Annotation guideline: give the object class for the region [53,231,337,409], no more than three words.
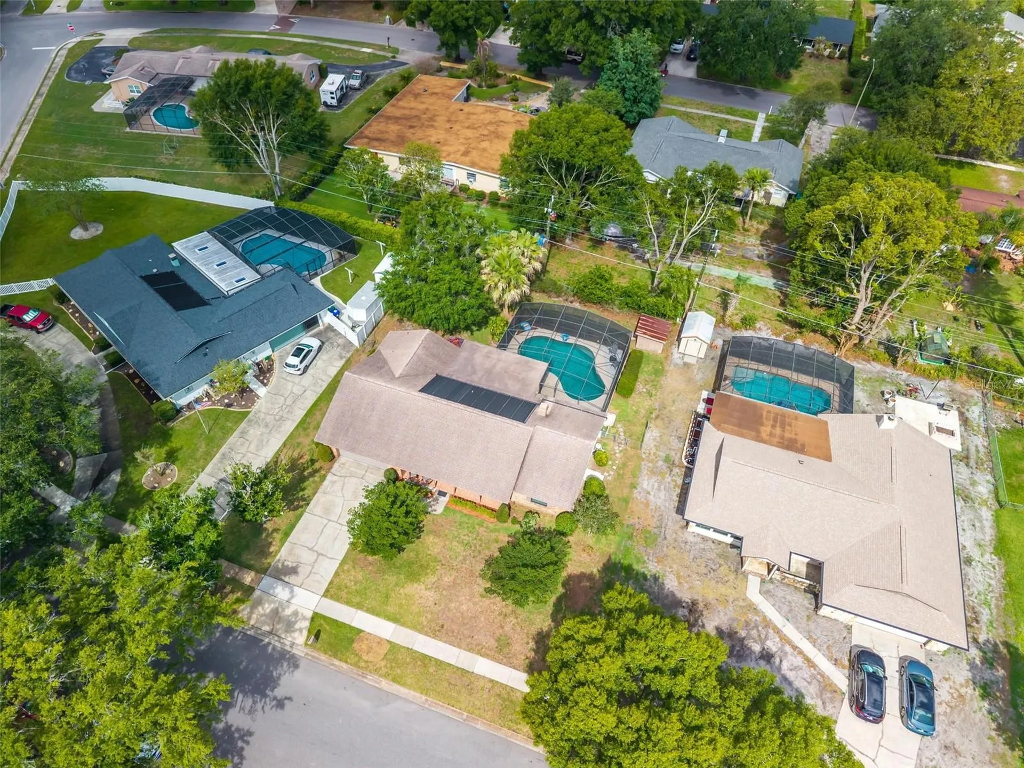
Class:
house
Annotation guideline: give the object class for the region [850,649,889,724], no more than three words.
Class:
car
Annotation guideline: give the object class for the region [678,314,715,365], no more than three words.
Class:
shed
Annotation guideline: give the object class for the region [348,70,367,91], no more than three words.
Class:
car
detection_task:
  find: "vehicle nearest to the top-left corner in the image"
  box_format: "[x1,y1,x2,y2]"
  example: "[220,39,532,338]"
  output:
[93,62,121,78]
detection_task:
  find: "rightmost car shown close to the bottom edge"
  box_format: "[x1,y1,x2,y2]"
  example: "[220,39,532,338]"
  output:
[900,659,939,734]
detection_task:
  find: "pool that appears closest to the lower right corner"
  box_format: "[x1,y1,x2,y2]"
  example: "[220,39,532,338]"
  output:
[730,367,834,416]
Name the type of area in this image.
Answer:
residential area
